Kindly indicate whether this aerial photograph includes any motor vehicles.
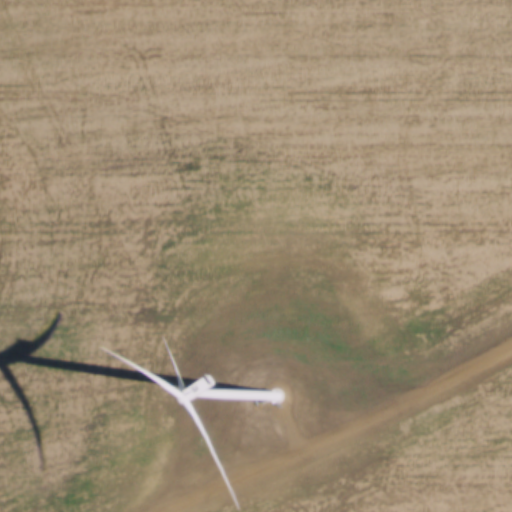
No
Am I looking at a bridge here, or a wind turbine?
wind turbine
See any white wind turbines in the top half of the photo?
No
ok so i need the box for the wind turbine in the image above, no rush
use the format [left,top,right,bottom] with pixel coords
[102,336,285,508]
